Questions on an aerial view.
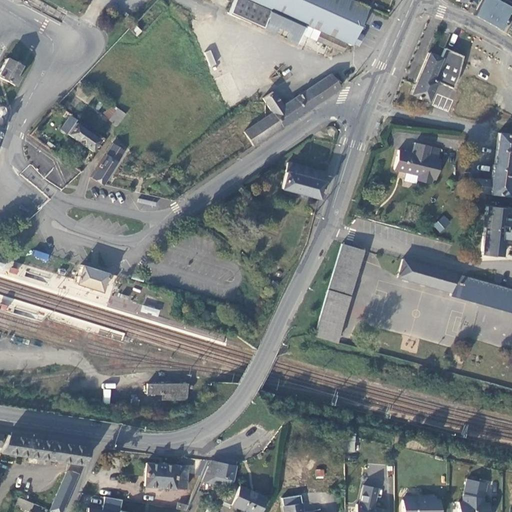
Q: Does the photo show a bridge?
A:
Yes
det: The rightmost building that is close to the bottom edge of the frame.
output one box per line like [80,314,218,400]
[460,479,494,512]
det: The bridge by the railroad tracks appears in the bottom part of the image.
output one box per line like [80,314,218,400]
[228,334,285,406]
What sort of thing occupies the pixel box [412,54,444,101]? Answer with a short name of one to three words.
house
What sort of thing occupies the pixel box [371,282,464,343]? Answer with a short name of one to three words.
sports court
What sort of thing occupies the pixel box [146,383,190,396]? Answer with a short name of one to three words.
shed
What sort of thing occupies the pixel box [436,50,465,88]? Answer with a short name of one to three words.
building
